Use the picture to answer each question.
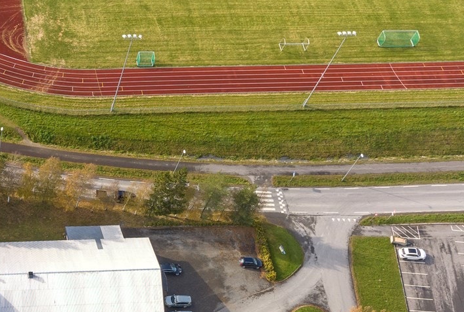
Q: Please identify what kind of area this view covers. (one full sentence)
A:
It's a sports ground.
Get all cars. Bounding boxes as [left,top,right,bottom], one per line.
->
[163,296,193,309]
[396,247,426,262]
[237,258,263,270]
[160,264,185,278]
[113,190,139,204]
